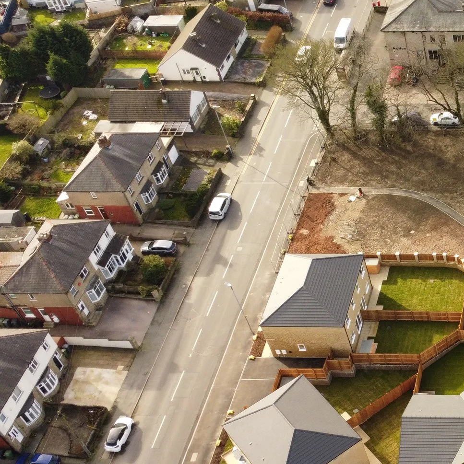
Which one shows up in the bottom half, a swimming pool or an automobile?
automobile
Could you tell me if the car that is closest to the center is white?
Yes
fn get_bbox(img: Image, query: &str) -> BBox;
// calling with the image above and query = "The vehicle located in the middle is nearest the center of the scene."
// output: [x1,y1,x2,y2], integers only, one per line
[209,195,233,220]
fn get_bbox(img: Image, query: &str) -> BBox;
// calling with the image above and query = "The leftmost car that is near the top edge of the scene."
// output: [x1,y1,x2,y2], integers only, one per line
[260,1,289,16]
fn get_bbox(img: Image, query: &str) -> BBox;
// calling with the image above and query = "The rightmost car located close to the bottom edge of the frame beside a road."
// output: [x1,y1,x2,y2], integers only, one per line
[102,416,136,455]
